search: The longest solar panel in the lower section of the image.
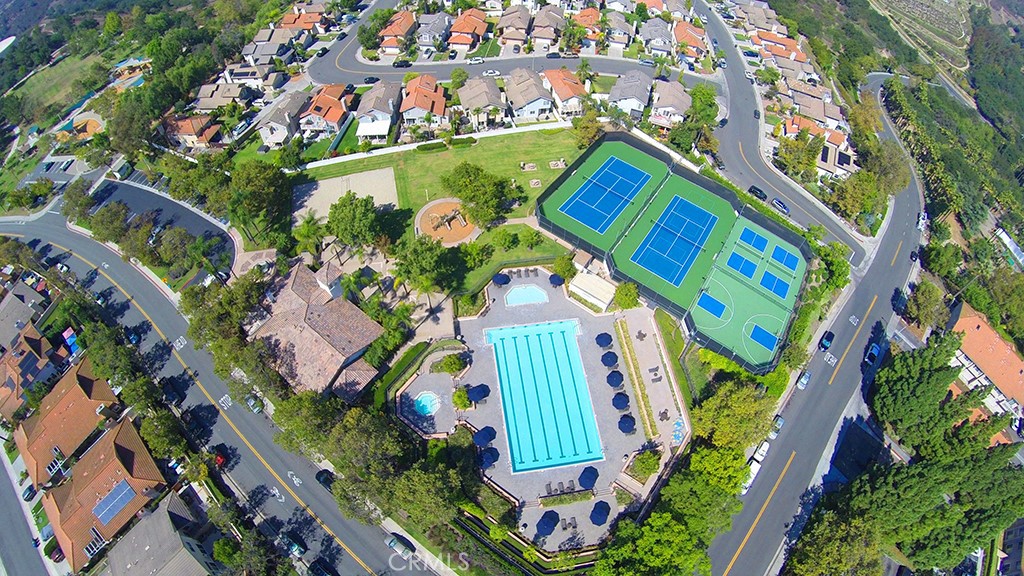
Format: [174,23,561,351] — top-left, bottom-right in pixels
[88,478,137,526]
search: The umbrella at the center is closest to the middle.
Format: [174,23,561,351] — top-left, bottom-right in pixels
[493,272,509,287]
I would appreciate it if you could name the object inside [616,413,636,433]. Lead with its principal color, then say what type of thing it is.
blue umbrella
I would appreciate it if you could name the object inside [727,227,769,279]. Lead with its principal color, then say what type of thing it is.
blue sports court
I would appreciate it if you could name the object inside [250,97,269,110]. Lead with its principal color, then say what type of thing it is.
white vehicle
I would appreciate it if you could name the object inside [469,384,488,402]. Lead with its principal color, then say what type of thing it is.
blue umbrella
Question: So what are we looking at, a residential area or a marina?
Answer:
residential area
